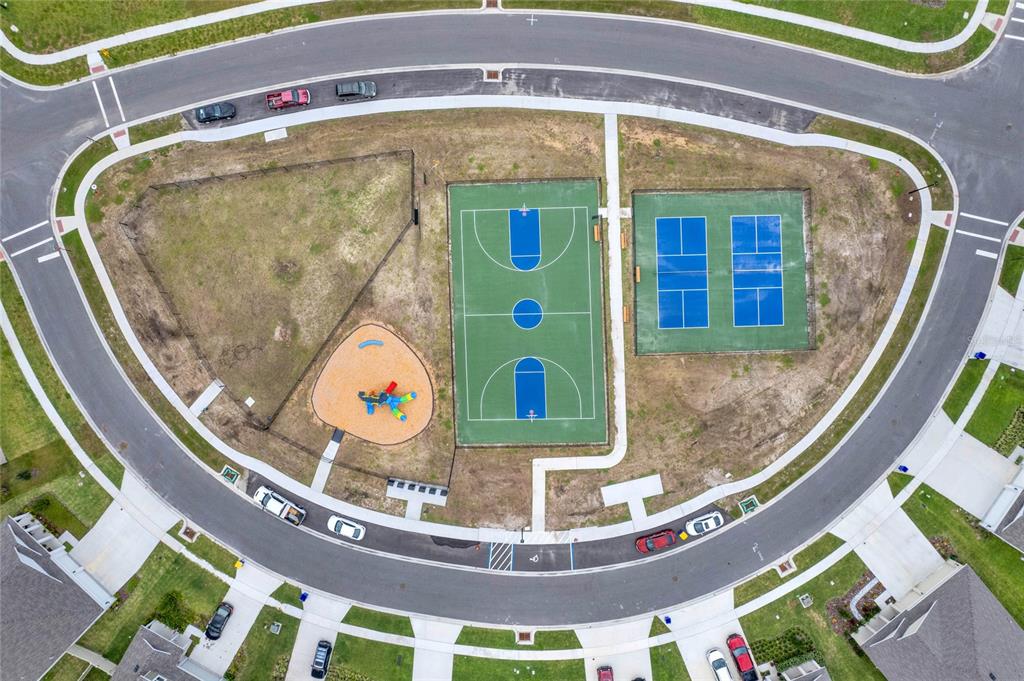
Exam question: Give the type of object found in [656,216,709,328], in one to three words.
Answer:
sports court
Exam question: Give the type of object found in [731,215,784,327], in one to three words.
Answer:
sports court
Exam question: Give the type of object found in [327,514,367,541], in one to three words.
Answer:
car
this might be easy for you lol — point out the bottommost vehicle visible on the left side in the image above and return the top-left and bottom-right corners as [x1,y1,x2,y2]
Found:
[310,638,334,679]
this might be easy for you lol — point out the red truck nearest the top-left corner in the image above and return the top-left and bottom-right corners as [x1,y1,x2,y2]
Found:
[264,87,312,111]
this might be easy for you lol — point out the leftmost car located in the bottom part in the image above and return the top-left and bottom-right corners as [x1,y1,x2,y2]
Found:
[207,600,234,640]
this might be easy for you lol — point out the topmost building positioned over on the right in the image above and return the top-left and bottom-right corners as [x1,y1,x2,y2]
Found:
[983,467,1024,557]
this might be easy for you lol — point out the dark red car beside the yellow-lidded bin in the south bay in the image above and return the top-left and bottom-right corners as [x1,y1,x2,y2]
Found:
[635,528,677,553]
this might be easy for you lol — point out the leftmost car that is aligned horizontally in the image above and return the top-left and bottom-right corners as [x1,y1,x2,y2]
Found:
[195,102,237,124]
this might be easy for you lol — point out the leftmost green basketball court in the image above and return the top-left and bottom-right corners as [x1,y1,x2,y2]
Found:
[447,178,609,447]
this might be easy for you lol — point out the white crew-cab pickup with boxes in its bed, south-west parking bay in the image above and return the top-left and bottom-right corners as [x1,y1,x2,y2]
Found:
[255,487,308,526]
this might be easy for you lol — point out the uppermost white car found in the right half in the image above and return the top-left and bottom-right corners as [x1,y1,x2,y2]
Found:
[684,510,725,535]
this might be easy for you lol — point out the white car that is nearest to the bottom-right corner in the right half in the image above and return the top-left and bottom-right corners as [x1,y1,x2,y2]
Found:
[708,647,735,681]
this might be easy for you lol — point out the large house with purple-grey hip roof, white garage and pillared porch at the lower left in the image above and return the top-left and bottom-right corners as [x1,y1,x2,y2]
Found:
[0,510,115,681]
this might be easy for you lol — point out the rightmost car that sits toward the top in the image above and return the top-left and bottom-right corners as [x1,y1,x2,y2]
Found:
[335,79,378,102]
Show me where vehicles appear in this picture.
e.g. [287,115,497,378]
[207,600,234,640]
[684,510,725,535]
[635,528,677,553]
[255,487,308,526]
[195,102,237,124]
[264,87,312,111]
[596,664,615,681]
[327,514,367,541]
[335,79,378,102]
[310,638,334,679]
[728,633,761,681]
[708,647,735,681]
